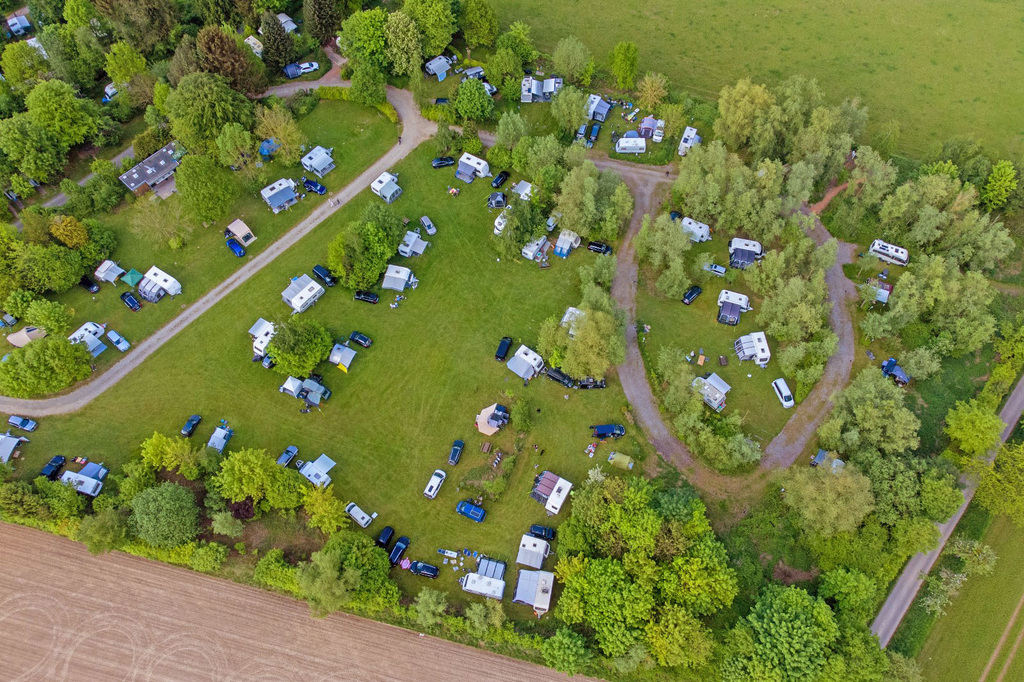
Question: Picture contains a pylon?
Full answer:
No, the photo shows no pylon.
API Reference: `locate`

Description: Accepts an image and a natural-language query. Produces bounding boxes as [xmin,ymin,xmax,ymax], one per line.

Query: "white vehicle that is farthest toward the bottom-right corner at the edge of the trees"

[772,381,793,409]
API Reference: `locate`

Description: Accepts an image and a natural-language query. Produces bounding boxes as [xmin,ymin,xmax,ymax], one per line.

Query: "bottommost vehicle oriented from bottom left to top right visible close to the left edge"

[38,453,70,477]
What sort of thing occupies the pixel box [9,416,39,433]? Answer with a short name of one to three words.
car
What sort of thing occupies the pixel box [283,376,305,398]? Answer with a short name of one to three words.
gazebo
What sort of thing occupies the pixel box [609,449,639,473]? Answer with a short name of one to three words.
tent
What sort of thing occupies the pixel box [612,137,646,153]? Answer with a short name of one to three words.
camper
